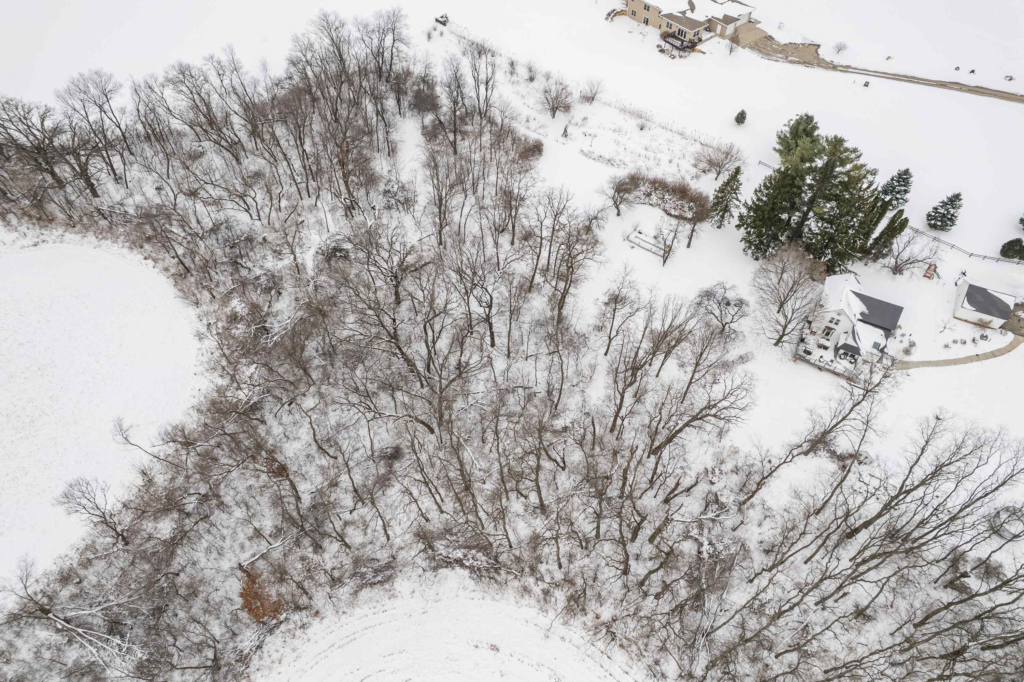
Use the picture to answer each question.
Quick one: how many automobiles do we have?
none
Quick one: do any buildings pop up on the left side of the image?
No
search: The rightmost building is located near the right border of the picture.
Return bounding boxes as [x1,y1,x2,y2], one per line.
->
[954,274,1018,330]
